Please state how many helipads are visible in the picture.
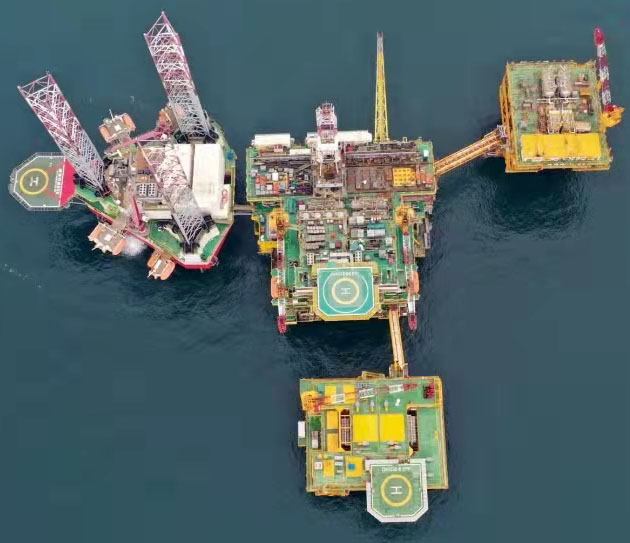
three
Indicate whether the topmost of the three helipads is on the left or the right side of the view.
left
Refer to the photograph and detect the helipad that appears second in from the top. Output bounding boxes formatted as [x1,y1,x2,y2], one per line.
[311,263,380,322]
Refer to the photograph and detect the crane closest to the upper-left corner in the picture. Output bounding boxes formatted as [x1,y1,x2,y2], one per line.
[102,119,172,159]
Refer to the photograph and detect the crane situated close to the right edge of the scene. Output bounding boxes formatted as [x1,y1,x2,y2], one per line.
[593,31,620,129]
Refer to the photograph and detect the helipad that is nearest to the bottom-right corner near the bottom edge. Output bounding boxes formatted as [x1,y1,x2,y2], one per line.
[365,458,428,523]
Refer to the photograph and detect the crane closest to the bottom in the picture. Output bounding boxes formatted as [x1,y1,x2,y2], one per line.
[295,384,418,410]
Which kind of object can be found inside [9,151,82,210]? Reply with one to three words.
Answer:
helipad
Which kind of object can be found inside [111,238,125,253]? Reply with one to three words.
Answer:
boat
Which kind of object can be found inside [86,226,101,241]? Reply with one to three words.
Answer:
boat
